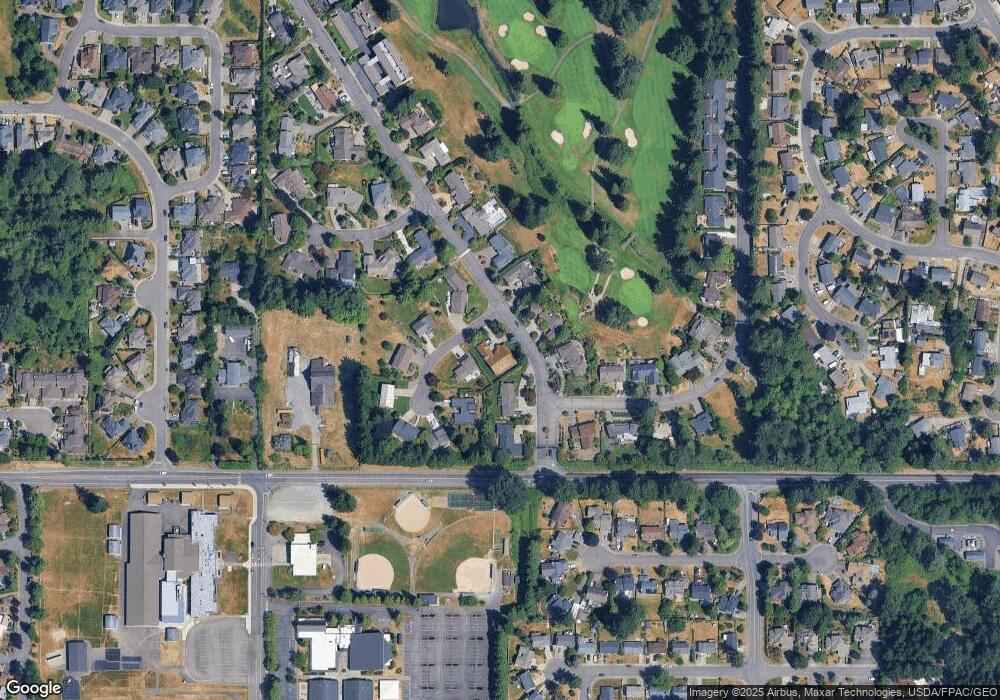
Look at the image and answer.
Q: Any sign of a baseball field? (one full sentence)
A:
Yes, there's a baseball field here.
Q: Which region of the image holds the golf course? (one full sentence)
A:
The golf course sits in the top section of the image.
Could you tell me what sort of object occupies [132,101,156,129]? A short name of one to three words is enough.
house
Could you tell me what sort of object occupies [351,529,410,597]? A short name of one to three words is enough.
baseball field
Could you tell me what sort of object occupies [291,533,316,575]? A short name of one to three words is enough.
building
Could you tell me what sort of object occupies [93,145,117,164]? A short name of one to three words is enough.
house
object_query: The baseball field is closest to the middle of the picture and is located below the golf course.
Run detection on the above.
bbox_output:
[390,490,434,531]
